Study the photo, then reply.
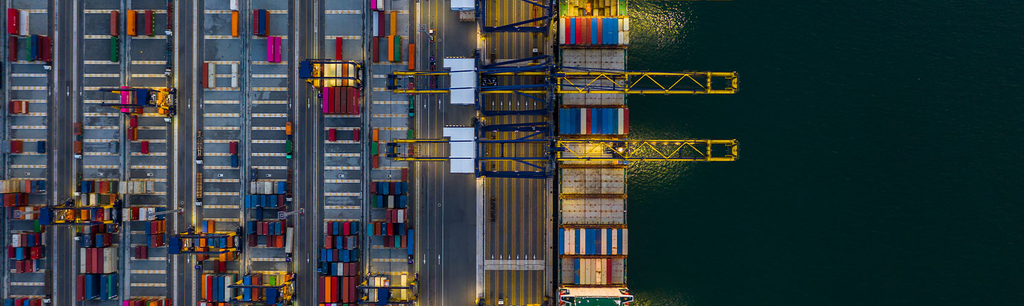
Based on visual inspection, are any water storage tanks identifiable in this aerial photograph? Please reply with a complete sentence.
No, the frame has no water storage tank in it.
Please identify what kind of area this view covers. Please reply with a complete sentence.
It's a port.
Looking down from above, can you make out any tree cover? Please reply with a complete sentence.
No, the scene doesn't show any tree cover.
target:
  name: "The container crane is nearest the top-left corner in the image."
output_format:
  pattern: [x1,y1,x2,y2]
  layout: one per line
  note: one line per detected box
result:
[95,87,175,116]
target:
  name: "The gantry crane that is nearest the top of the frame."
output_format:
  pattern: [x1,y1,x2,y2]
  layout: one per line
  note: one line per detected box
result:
[387,0,739,42]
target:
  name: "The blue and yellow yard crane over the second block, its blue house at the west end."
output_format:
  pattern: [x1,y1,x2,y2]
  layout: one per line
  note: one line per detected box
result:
[36,198,123,226]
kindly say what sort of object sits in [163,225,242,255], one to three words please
container crane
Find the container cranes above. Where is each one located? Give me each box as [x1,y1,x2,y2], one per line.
[95,87,175,116]
[387,0,739,42]
[296,60,364,90]
[387,120,739,181]
[163,225,242,255]
[36,198,123,226]
[225,272,298,305]
[387,51,739,122]
[355,272,420,306]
